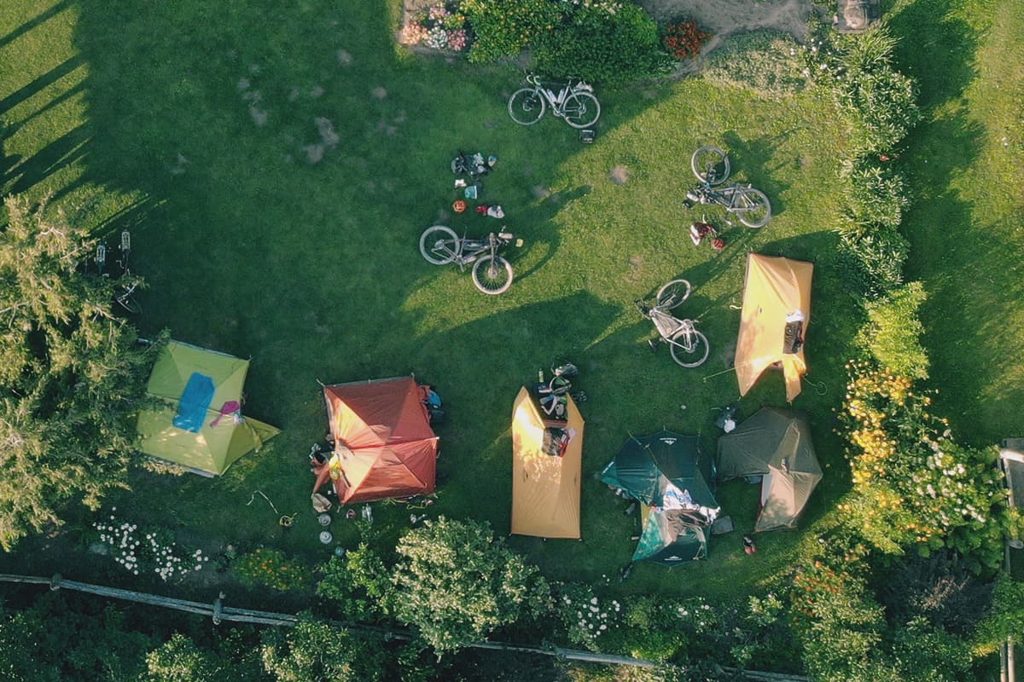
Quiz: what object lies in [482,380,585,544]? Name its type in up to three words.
tent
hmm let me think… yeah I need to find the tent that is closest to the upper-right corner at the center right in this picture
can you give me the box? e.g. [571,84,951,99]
[705,250,827,405]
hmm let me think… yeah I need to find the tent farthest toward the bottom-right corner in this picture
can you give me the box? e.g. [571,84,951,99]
[712,403,830,536]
